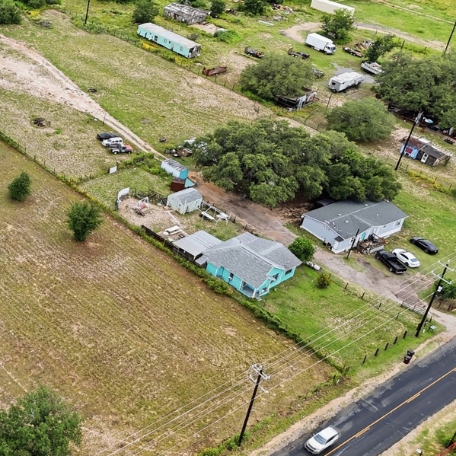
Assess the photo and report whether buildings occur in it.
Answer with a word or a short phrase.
Yes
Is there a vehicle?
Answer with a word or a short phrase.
Yes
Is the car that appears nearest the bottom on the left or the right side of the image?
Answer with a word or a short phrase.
right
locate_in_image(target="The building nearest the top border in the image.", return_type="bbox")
[157,0,211,29]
